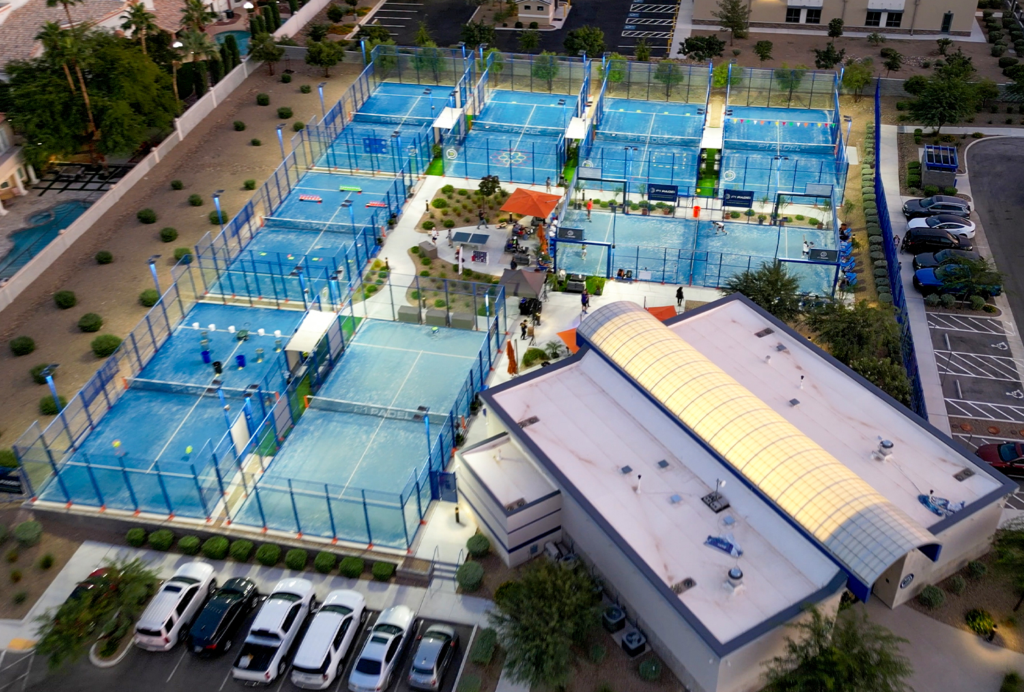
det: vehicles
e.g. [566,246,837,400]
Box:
[293,593,371,690]
[136,563,224,656]
[404,635,459,692]
[905,189,976,218]
[904,224,976,255]
[908,211,980,236]
[347,612,418,692]
[963,436,1024,474]
[913,246,991,270]
[236,582,320,686]
[190,578,268,664]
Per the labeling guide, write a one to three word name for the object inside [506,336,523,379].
umbrella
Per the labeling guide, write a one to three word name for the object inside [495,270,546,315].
tent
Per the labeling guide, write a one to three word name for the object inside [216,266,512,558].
sports court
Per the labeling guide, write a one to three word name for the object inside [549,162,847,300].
sports court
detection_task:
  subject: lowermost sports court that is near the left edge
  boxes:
[16,253,338,526]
